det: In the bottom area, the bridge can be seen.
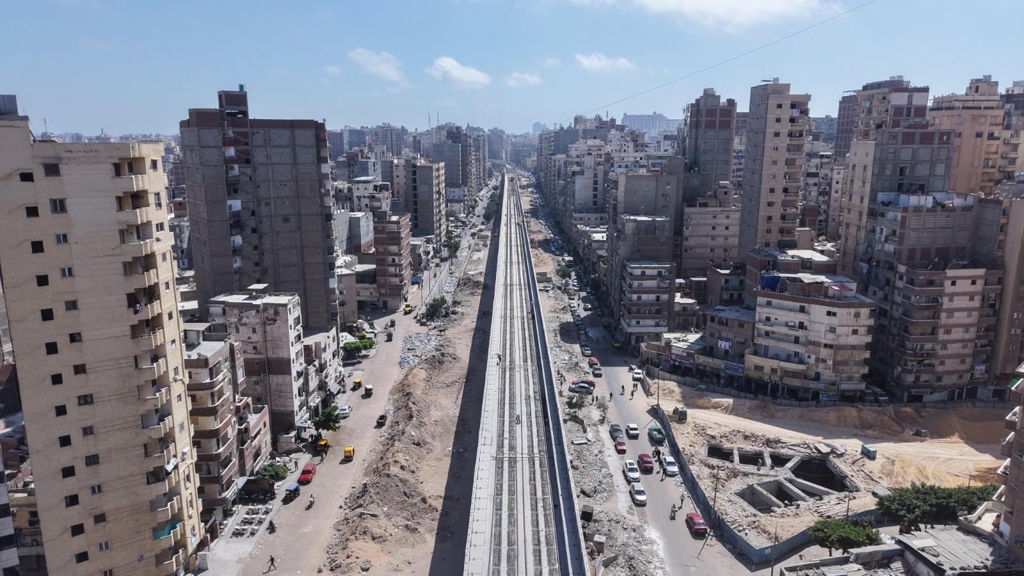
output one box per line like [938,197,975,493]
[463,161,591,576]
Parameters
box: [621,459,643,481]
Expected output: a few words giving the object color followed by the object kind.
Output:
white car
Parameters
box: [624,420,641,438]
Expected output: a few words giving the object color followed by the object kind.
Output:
white car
